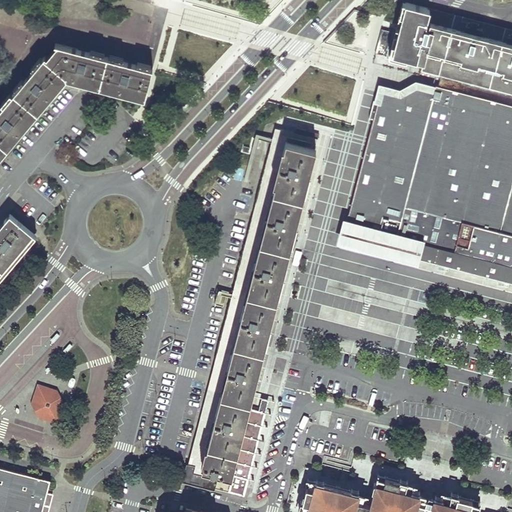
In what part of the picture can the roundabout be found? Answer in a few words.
left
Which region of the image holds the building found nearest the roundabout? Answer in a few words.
left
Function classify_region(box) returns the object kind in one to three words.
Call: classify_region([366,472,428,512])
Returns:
house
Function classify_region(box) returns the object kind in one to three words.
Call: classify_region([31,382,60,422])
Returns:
building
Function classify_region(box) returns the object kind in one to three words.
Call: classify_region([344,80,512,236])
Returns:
building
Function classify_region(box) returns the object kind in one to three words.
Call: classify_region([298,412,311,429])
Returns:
vehicle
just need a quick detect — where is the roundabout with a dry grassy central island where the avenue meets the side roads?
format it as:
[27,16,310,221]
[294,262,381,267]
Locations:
[64,170,168,275]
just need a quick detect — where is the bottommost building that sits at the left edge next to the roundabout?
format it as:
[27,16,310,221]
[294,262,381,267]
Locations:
[0,214,36,282]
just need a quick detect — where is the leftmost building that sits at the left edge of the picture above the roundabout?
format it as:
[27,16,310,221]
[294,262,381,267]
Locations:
[0,44,152,163]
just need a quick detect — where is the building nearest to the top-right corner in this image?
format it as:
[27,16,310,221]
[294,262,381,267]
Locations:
[390,6,512,96]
